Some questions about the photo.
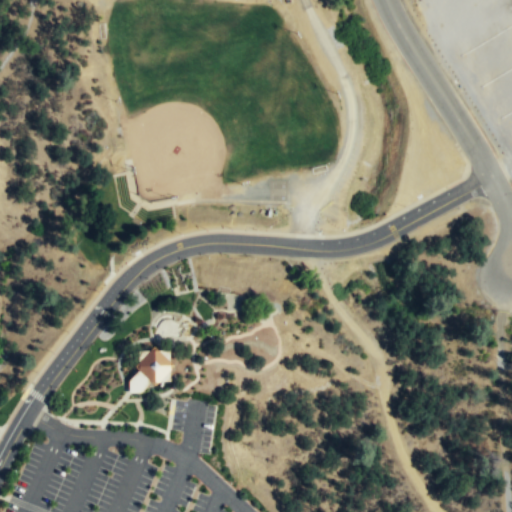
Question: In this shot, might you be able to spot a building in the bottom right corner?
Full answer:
No, no building appears in the bottom right corner.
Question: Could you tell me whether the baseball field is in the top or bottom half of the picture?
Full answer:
You can find the baseball field in the top half.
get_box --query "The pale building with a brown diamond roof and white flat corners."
[128,346,175,394]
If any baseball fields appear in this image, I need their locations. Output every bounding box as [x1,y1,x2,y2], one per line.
[109,0,340,201]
